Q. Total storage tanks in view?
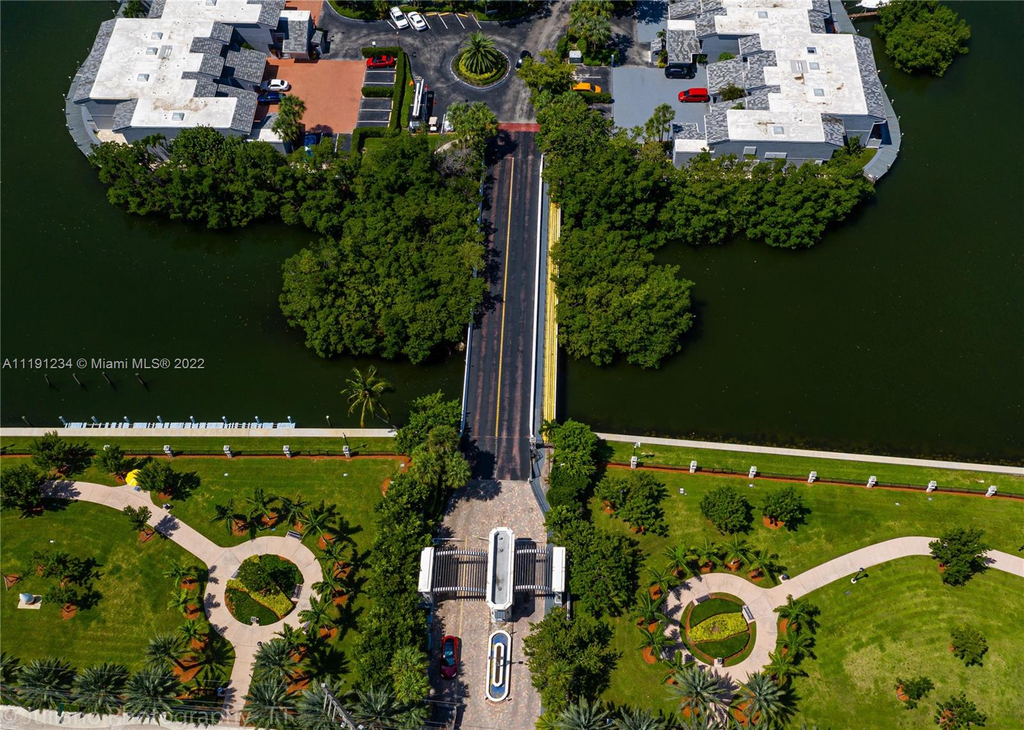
0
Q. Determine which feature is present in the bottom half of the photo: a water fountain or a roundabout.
water fountain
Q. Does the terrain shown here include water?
Yes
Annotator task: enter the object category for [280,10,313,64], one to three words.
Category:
building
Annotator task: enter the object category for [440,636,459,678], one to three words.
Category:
car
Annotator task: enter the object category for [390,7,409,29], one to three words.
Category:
vehicle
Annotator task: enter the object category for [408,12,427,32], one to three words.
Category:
car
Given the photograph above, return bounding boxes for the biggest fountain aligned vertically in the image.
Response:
[487,630,511,704]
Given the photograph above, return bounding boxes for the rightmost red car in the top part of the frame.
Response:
[678,89,707,104]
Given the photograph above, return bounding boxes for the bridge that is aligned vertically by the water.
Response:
[460,131,563,457]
